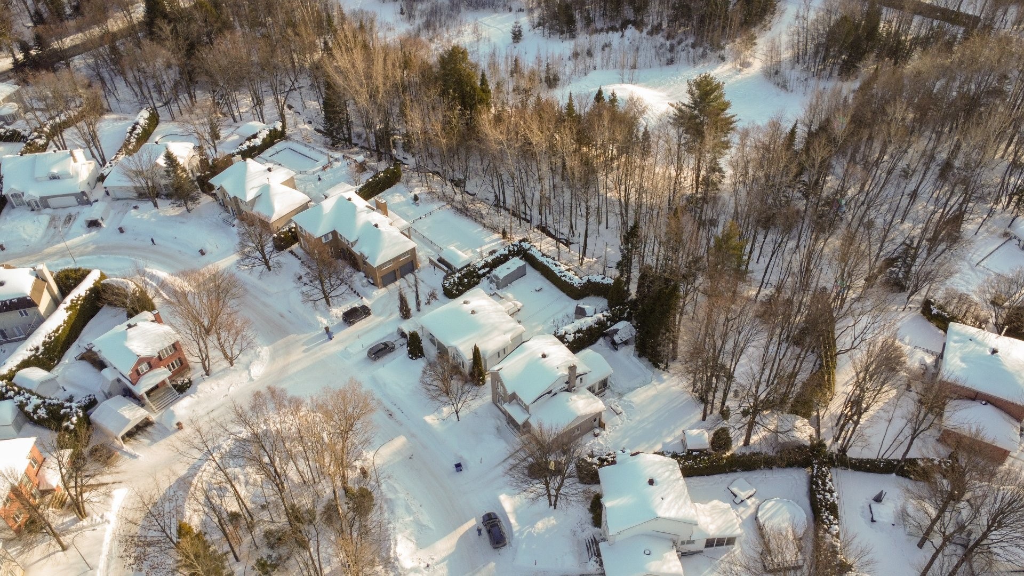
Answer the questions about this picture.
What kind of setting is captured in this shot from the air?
residential area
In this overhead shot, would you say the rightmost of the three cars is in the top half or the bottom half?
bottom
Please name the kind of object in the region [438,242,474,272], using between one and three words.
shed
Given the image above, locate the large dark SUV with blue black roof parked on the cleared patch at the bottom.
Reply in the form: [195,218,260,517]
[475,510,504,552]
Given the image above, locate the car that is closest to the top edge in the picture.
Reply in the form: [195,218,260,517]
[339,305,371,323]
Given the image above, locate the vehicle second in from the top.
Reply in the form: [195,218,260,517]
[363,340,396,360]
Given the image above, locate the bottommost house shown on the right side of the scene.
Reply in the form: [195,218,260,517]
[587,445,739,576]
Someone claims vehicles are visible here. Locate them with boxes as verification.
[475,510,504,552]
[363,340,396,360]
[339,305,371,323]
